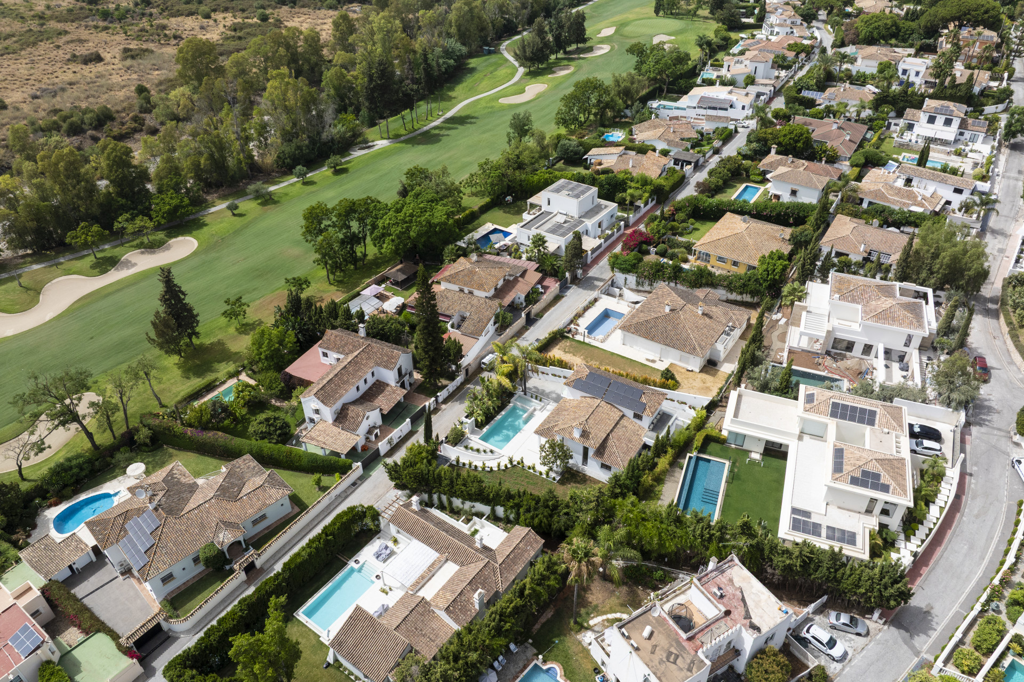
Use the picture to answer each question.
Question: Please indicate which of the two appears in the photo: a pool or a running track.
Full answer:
It is a pool that can be seen here.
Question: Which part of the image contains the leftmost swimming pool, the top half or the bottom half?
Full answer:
It is in the bottom half that the leftmost swimming pool appears.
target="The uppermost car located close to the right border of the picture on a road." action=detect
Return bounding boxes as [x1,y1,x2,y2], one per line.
[971,355,992,381]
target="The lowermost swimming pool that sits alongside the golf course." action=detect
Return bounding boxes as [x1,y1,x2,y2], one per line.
[47,485,131,538]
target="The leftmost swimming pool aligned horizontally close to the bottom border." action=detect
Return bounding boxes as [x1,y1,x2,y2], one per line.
[511,656,567,682]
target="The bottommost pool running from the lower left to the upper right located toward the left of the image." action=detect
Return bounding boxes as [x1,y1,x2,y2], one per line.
[294,553,384,636]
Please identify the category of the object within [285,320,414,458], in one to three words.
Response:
house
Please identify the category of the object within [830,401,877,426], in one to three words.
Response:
solar array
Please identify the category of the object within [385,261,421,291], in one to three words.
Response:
gazebo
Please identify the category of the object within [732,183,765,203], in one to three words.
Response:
swimming pool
